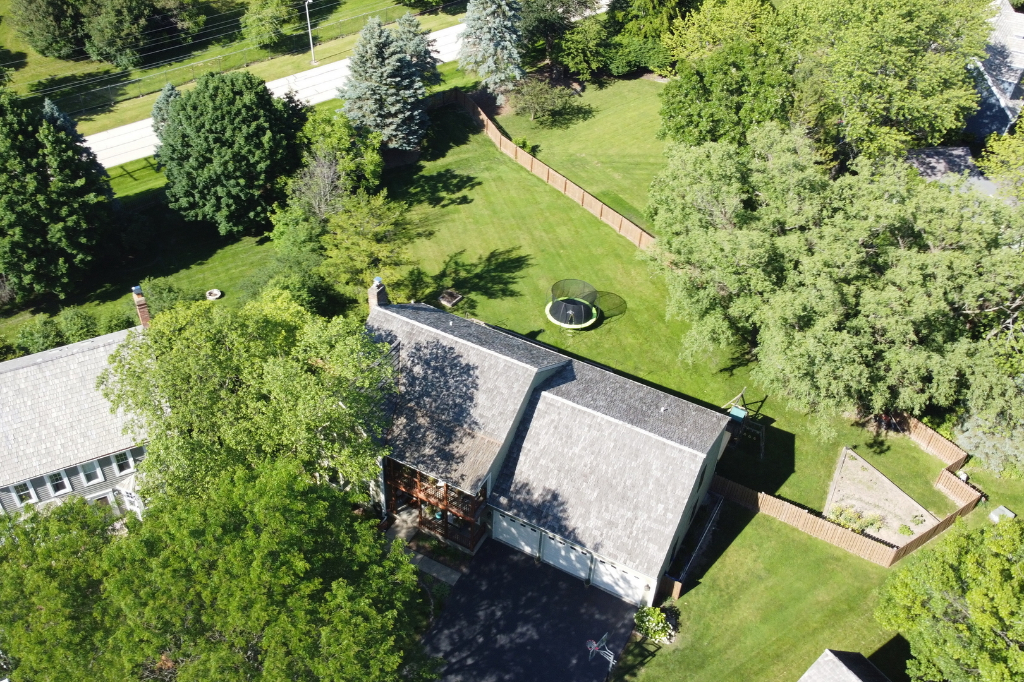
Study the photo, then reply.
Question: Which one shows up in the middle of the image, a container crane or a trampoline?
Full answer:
The feature located in the middle of the image is a trampoline.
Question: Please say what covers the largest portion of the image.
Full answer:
The scene is dominated by trees.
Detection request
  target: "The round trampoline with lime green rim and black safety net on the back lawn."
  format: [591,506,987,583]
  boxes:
[544,279,600,342]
